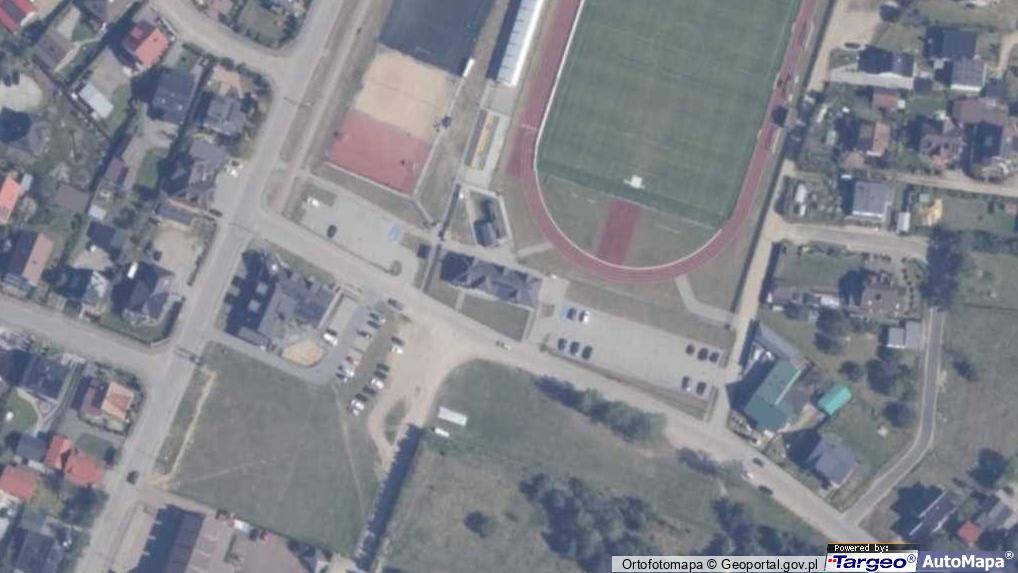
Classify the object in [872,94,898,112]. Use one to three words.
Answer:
shed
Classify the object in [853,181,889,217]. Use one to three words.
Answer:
house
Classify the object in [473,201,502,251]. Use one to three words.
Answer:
building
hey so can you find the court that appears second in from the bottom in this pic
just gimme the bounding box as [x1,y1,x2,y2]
[353,42,462,142]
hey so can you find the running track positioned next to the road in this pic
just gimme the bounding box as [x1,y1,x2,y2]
[505,0,809,284]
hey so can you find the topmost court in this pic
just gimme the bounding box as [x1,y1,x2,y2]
[379,0,494,76]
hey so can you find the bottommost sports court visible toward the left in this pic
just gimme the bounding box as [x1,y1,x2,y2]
[329,107,437,194]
